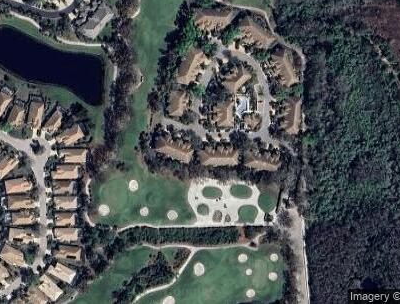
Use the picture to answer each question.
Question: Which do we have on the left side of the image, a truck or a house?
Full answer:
Visible on the left side of the image is a house.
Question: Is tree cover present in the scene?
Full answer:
Yes, the picture does contain tree cover.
